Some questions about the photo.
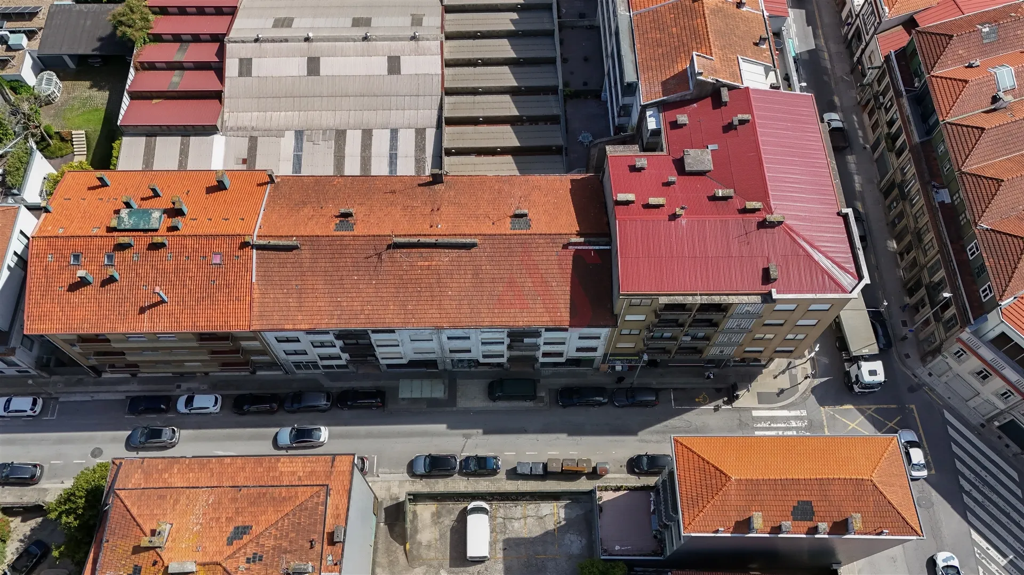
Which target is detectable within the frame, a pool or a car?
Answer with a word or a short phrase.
car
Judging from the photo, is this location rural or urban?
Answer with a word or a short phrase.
urban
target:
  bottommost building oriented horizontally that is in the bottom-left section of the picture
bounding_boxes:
[82,453,375,575]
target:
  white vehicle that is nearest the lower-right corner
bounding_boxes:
[933,549,964,575]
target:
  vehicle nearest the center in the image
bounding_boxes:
[488,377,536,401]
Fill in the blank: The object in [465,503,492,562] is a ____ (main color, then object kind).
white vehicle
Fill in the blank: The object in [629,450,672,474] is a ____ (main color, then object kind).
black car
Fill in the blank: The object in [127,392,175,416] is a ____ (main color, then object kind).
black car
